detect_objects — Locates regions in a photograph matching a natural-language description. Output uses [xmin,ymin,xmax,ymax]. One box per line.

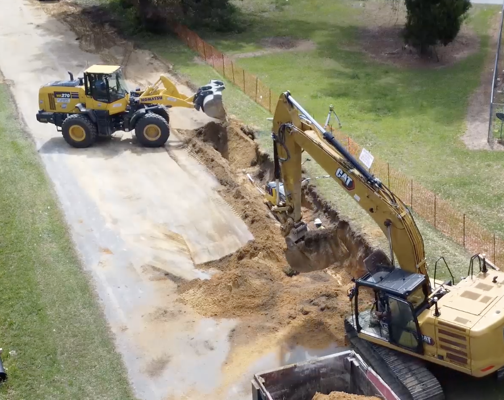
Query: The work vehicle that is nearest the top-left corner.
[37,59,236,148]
